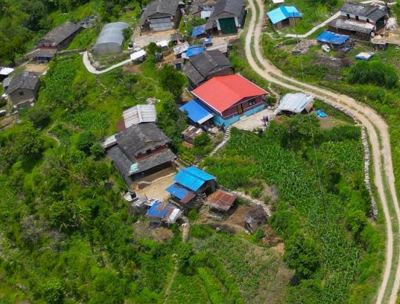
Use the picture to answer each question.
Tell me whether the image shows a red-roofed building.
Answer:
Yes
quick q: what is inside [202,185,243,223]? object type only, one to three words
shed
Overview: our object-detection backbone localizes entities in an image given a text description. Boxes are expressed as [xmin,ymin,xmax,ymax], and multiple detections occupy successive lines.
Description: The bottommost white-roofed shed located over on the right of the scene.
[277,89,314,125]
